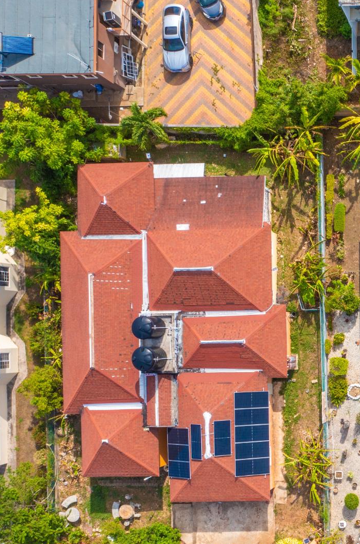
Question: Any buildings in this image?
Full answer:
Yes, the frame does contain a building.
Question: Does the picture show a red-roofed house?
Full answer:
Yes, the image includes a red-roofed house.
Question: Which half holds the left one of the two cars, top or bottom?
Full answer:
The top half of the photo is where the left one of the two cars is.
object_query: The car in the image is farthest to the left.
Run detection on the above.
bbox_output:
[157,0,196,74]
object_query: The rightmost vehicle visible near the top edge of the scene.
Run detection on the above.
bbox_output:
[198,0,234,23]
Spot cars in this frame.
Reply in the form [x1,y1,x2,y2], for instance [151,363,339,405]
[157,0,196,74]
[198,0,234,23]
